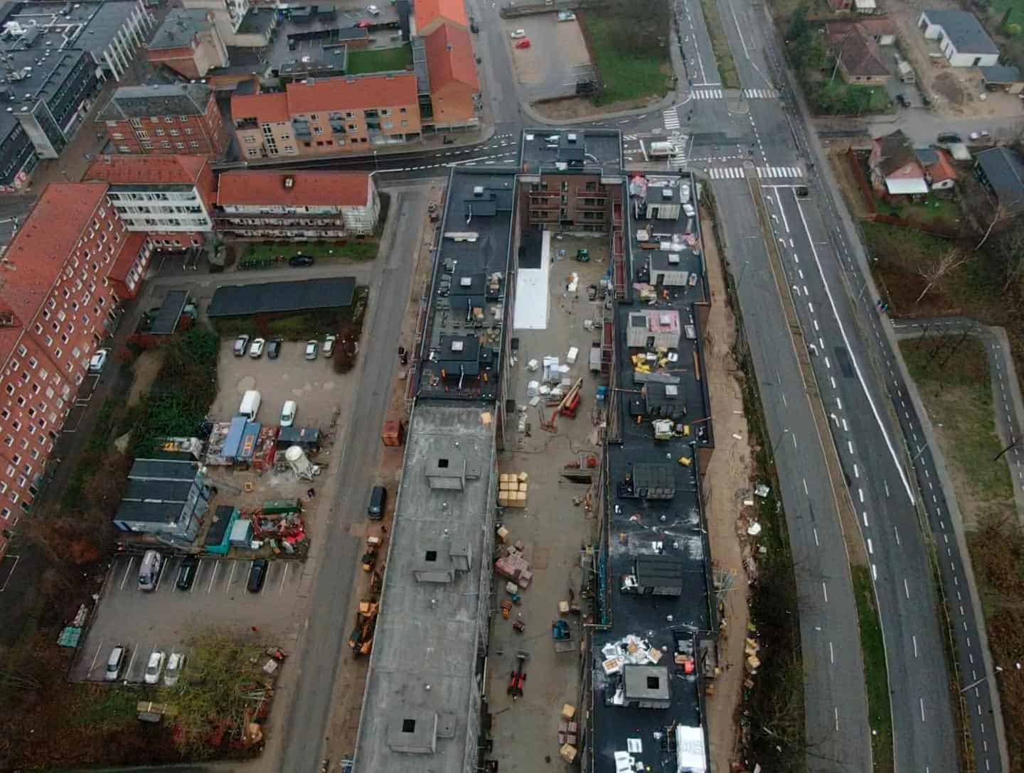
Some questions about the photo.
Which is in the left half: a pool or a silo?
silo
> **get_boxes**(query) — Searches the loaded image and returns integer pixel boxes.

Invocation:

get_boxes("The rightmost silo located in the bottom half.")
[286,451,320,487]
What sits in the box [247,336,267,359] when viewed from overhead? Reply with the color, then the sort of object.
white car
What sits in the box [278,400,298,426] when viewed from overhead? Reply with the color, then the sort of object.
white car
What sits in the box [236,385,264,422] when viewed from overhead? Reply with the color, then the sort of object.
white van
